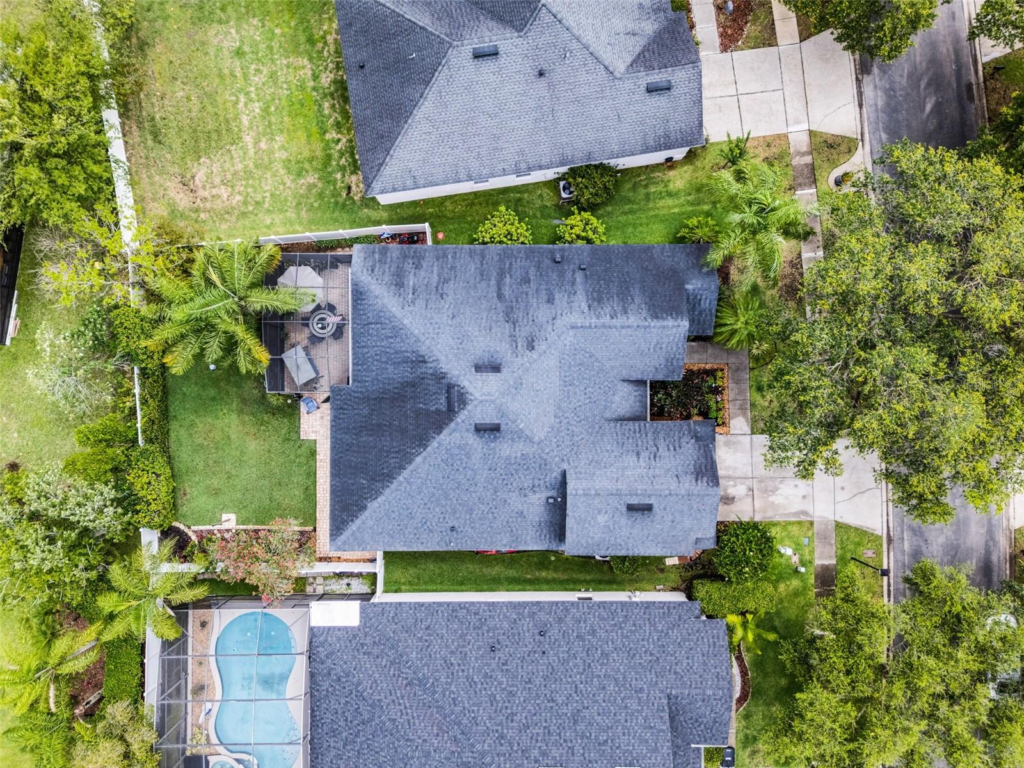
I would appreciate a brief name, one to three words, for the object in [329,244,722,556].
house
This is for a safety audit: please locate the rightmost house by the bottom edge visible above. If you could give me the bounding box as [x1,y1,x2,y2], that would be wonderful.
[309,589,736,768]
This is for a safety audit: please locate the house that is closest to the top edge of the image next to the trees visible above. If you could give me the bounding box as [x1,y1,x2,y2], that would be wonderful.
[334,0,705,202]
